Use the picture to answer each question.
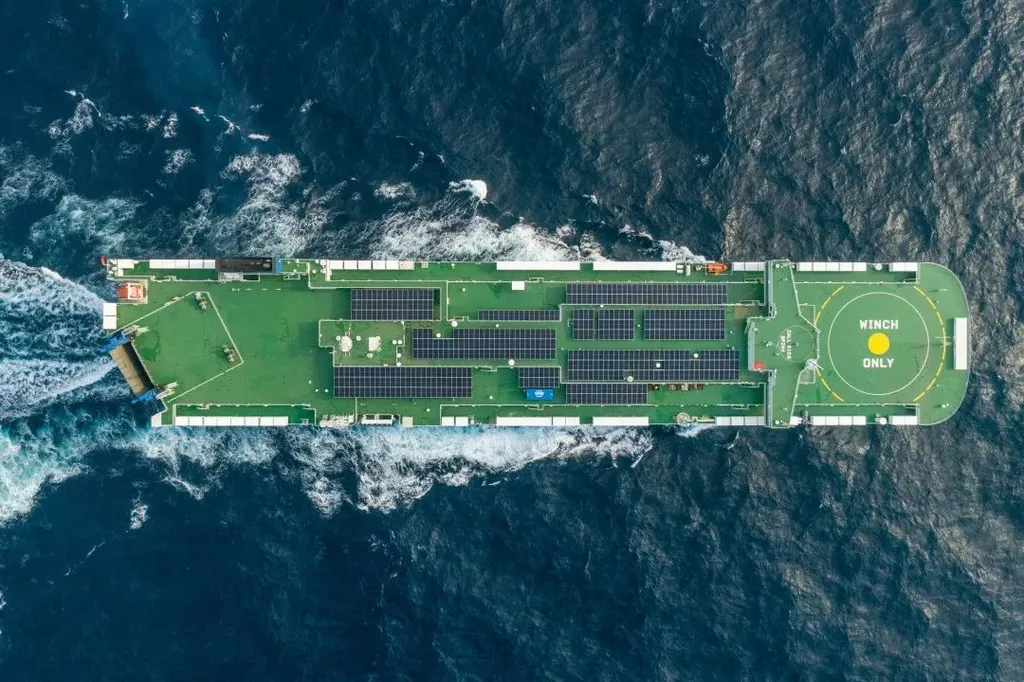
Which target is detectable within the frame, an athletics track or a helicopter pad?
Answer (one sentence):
This aerial view contains a helicopter pad.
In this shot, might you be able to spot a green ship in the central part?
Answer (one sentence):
Yes, a green ship appears in the central part.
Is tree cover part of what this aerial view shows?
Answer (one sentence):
No, there's no tree cover in this view.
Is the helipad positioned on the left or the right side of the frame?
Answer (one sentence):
The helipad appears in the right half of the scene.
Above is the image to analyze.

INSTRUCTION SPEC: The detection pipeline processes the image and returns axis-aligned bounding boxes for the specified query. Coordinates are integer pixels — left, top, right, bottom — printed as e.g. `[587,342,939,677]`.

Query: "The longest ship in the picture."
[102,257,971,428]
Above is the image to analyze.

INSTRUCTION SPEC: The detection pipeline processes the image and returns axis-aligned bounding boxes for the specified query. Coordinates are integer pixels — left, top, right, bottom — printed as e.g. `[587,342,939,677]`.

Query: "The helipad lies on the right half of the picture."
[814,284,948,403]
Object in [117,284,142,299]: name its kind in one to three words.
boat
